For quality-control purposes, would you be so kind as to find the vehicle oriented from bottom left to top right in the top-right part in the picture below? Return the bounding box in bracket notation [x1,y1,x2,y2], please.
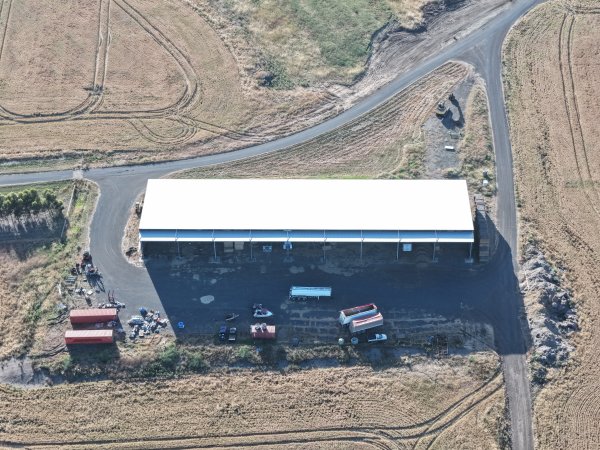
[434,90,456,117]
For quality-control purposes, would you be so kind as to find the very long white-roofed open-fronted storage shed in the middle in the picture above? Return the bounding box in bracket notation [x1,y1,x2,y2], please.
[138,179,476,260]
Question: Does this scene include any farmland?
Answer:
Yes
